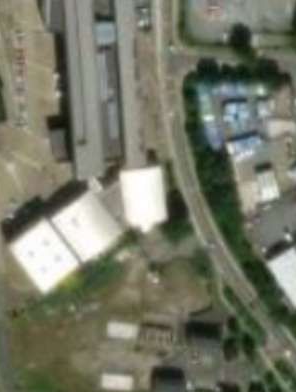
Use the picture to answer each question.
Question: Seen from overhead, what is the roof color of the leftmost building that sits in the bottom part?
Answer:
white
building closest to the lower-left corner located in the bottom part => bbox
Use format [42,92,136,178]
[102,374,133,388]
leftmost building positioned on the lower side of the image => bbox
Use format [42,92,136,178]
[9,216,81,292]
